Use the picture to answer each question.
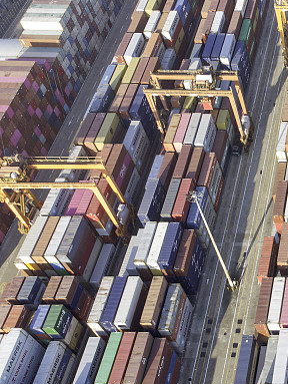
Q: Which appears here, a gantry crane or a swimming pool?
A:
gantry crane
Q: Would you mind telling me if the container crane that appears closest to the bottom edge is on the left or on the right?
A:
left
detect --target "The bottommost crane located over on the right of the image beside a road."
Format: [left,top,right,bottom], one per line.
[137,69,254,145]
